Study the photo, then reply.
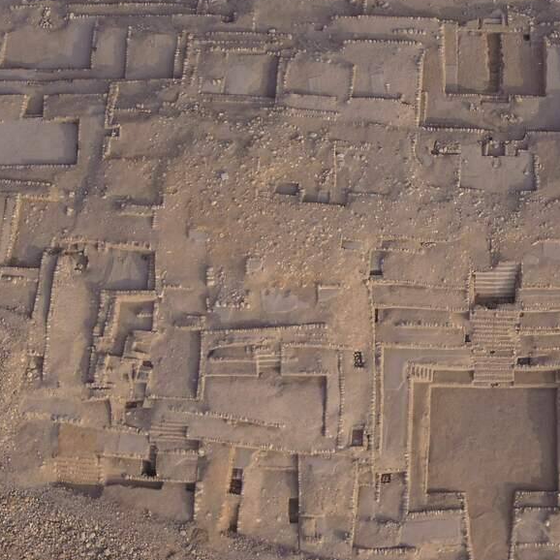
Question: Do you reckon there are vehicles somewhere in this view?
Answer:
No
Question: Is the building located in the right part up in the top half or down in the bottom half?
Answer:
top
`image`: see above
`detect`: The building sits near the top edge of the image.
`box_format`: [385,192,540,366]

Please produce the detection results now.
[416,10,560,135]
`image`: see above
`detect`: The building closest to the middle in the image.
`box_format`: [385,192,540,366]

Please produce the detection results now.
[162,264,210,331]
